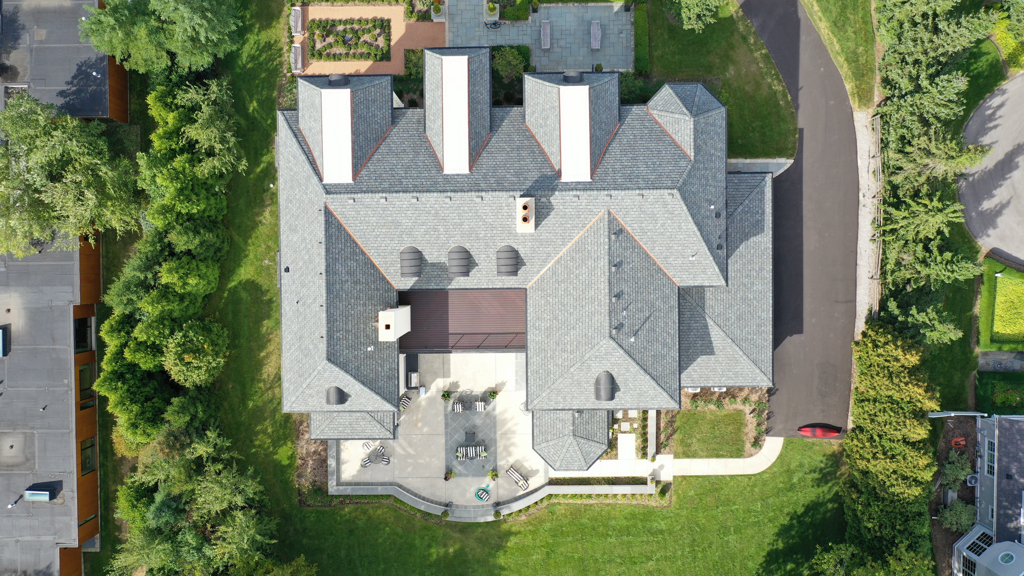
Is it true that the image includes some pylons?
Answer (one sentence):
No, there is no pylon in the image.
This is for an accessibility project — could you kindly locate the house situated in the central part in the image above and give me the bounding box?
[274,46,775,472]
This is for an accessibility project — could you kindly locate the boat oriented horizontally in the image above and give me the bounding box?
[798,426,842,439]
